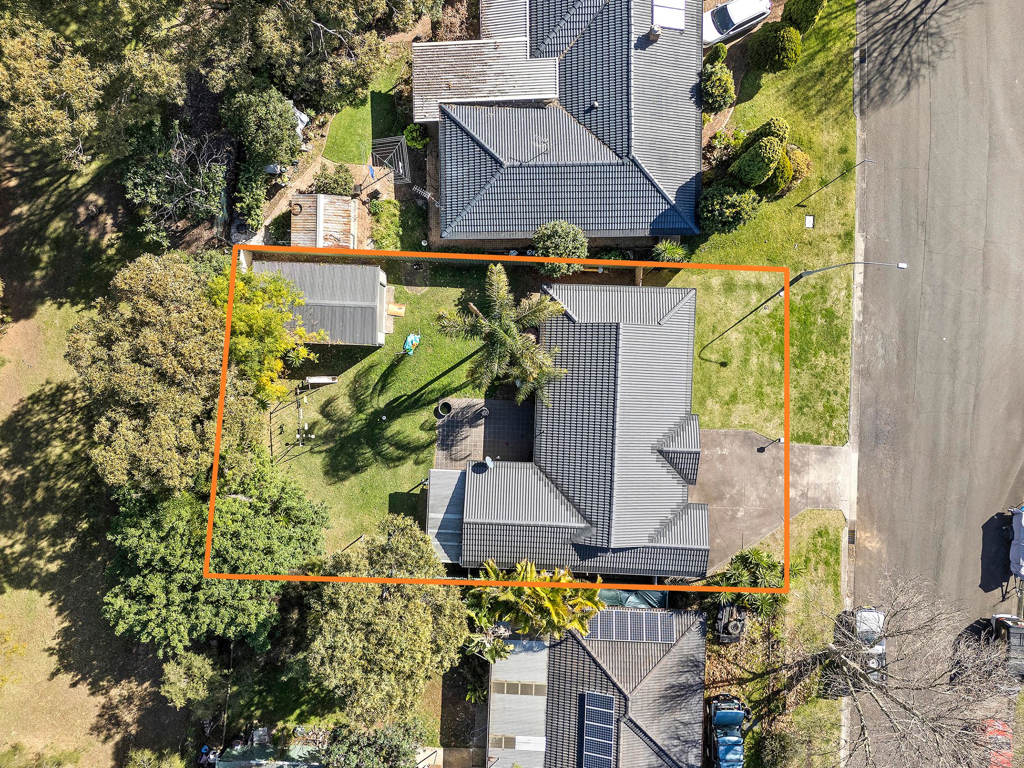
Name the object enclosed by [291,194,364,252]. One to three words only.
shed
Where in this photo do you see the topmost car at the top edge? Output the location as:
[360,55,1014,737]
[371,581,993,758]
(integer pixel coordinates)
[703,0,776,48]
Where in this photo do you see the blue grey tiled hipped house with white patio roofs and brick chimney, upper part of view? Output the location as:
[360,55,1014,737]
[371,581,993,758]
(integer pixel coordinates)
[412,0,703,241]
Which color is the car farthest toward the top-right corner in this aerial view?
white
